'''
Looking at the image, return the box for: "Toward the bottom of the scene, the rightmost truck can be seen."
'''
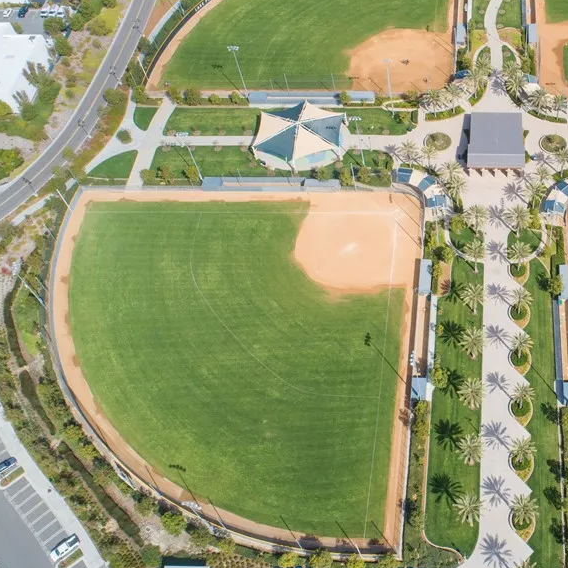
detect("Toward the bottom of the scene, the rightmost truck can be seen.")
[46,535,81,563]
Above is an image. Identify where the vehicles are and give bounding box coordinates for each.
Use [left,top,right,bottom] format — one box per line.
[2,6,12,16]
[45,4,56,16]
[46,535,81,563]
[54,4,65,16]
[0,457,17,475]
[18,5,28,15]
